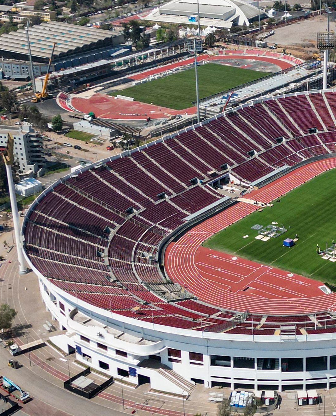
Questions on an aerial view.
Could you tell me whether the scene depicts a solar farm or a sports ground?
sports ground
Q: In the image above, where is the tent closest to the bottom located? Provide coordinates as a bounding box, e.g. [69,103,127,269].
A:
[14,171,62,194]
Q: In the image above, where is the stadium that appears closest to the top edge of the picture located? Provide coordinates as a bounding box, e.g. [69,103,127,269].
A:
[125,0,267,32]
